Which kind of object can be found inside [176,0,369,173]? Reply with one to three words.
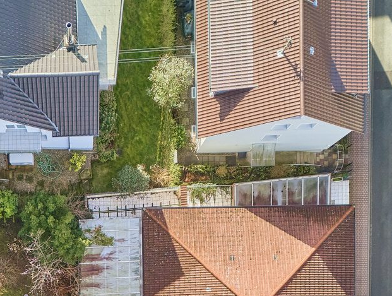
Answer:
house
